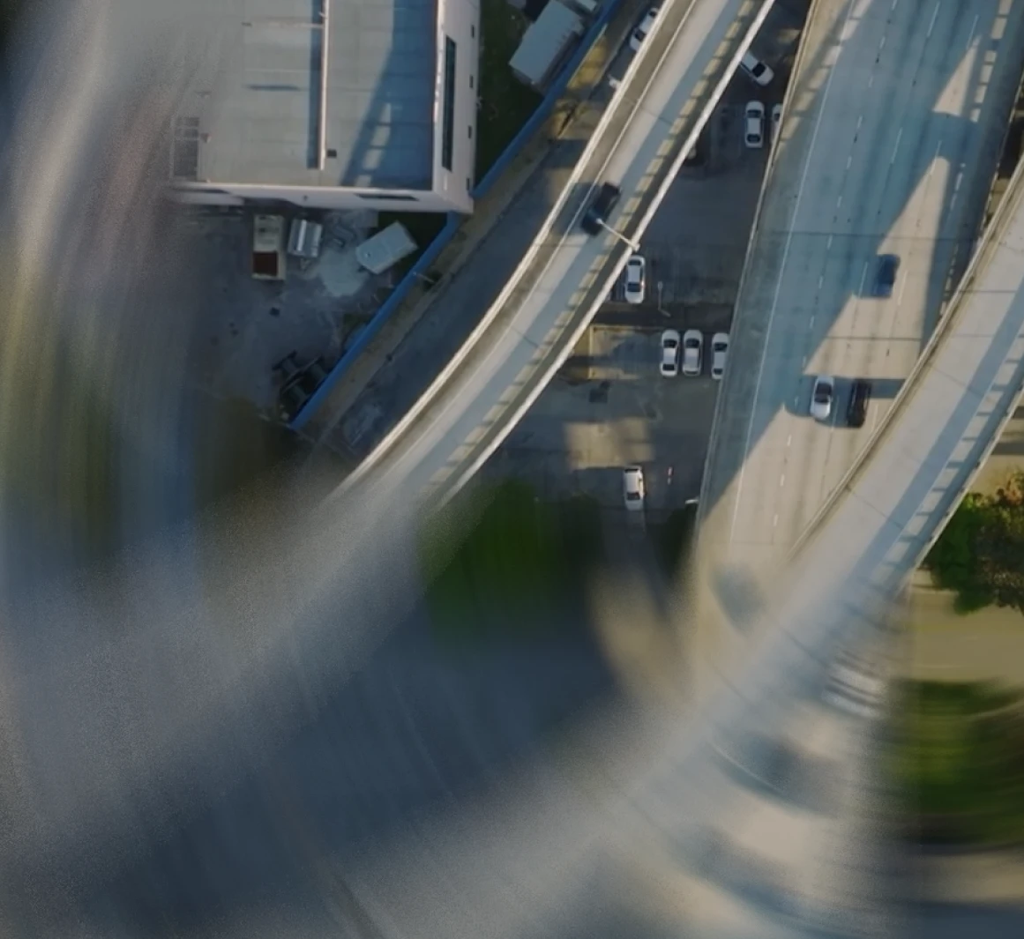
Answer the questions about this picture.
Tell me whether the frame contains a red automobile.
No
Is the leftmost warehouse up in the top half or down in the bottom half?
top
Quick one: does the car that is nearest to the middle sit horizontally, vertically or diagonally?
vertically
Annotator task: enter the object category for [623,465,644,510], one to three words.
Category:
car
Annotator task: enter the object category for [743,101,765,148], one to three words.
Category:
car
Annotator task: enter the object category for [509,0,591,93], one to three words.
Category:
shed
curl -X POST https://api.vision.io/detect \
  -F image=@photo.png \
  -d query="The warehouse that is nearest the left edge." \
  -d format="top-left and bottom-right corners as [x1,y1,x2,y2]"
[109,0,477,212]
